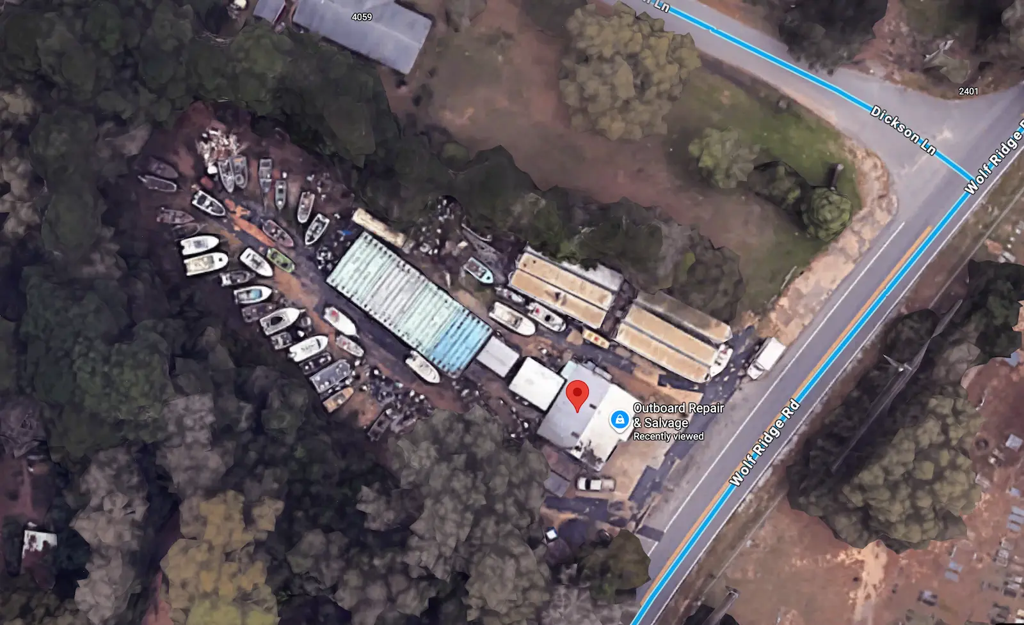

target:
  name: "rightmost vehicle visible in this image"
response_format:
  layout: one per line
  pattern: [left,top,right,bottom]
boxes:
[748,337,786,380]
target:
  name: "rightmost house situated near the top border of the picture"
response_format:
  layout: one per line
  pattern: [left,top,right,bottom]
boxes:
[294,0,433,74]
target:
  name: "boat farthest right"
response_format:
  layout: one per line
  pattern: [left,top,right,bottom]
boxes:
[710,341,734,378]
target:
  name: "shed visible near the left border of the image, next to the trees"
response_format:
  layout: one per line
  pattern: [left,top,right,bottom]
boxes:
[23,530,56,560]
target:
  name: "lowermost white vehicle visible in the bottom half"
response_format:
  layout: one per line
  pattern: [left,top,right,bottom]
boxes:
[577,477,615,492]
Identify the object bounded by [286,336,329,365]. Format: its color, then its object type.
white boat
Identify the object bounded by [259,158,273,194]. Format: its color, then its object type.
gray boat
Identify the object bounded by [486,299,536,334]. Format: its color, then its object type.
white boat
